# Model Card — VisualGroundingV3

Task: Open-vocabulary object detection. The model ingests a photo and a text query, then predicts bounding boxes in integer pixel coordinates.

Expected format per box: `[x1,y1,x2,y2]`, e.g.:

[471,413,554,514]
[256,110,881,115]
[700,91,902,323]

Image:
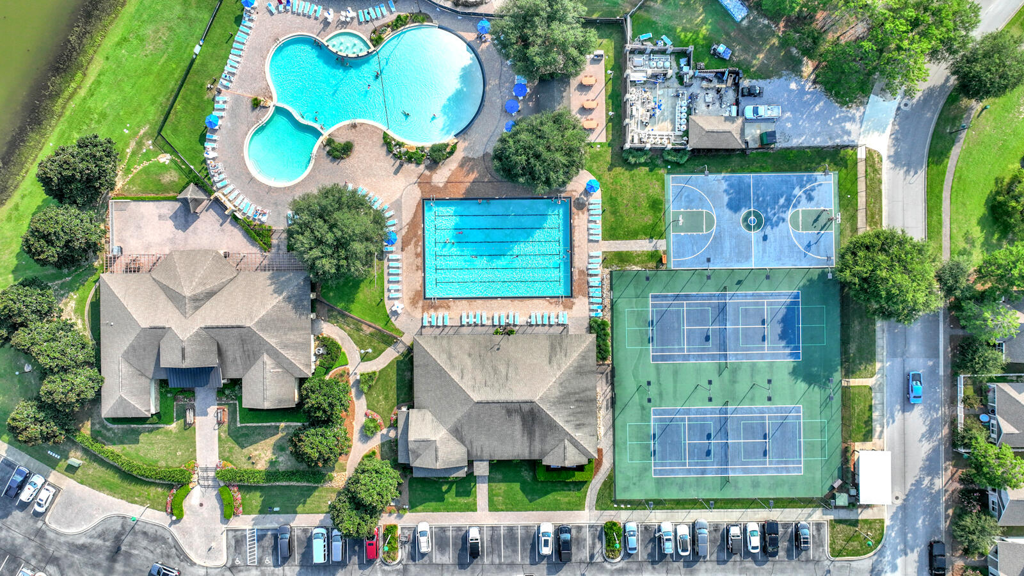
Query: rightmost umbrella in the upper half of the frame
[585,179,599,193]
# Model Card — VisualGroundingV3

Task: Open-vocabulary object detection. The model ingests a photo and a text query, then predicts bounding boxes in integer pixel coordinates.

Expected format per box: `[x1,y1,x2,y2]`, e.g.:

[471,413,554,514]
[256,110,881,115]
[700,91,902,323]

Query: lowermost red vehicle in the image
[364,527,379,560]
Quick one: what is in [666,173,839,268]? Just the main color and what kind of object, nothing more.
blue basketball court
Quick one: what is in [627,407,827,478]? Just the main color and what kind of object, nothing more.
blue tennis court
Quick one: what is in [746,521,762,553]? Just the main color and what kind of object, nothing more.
white car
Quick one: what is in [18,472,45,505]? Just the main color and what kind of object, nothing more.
white car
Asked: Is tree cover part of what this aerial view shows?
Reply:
Yes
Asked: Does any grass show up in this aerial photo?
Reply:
Yes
